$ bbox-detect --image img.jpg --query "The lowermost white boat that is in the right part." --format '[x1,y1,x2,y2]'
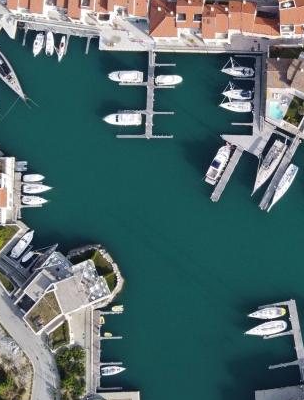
[243,320,288,343]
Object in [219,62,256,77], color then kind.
white boat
